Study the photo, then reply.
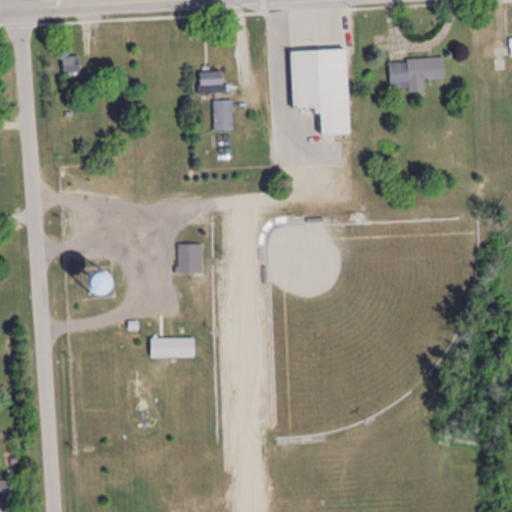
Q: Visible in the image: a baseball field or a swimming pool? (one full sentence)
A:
Visible in the photo is a baseball field.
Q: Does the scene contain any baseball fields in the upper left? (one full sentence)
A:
No, looking in the upper left, there is no baseball field.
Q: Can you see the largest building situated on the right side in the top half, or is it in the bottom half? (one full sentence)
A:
You can find the largest building situated on the right side in the top half.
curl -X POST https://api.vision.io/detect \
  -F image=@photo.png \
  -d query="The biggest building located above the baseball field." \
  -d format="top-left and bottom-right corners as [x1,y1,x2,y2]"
[290,48,351,133]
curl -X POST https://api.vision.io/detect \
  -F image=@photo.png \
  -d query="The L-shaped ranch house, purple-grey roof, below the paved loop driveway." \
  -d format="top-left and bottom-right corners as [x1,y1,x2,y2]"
[389,54,446,92]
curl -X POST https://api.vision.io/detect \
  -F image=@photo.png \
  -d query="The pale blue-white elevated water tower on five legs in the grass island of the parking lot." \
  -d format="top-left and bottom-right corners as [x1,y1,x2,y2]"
[88,268,118,298]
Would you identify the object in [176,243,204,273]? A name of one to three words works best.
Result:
building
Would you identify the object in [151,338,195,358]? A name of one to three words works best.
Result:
building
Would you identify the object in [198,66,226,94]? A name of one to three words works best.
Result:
house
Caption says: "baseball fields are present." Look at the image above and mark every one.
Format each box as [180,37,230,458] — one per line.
[262,212,480,446]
